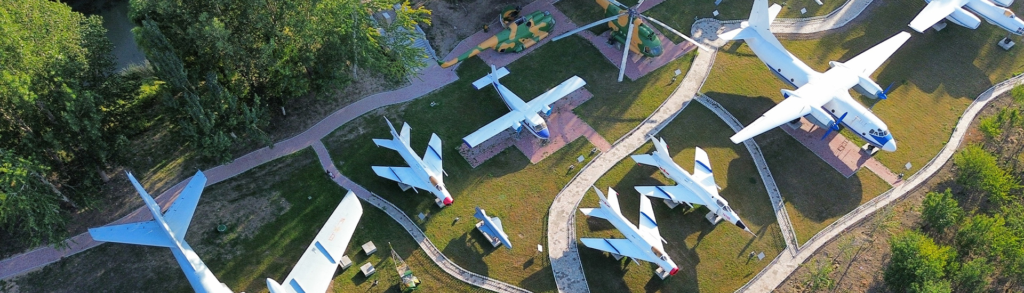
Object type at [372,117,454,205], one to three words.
airplane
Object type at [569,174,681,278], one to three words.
airplane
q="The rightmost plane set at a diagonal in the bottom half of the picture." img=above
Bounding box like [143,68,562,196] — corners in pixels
[631,134,757,244]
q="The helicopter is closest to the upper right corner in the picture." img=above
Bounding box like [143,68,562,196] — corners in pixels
[556,0,706,78]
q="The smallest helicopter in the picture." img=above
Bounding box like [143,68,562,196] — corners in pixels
[482,5,521,30]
